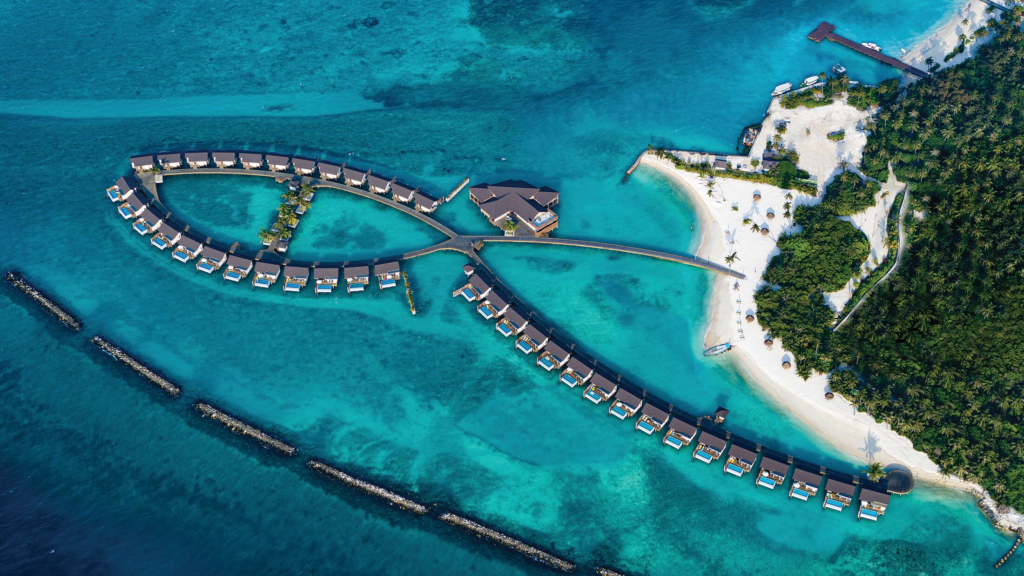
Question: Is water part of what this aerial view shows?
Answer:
Yes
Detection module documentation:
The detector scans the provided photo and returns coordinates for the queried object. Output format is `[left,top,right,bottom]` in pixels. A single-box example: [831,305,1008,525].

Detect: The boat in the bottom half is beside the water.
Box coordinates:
[704,342,732,354]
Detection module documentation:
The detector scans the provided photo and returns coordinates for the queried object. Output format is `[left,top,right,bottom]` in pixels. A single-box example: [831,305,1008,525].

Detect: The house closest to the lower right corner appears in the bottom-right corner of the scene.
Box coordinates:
[855,484,891,521]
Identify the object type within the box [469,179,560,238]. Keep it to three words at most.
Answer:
building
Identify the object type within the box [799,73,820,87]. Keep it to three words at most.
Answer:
boat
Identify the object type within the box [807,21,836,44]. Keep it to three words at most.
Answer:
pier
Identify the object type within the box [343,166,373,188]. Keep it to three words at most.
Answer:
house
